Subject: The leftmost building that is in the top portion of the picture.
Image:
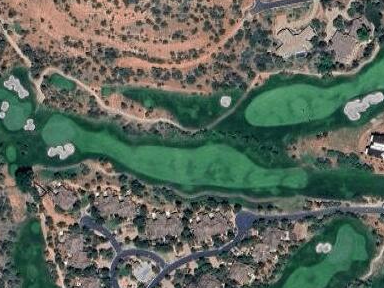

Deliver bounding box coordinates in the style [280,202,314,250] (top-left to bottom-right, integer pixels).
[277,26,316,57]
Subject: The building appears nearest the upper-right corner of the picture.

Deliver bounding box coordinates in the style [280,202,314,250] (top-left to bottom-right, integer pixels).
[328,15,375,62]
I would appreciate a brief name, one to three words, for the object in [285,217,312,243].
house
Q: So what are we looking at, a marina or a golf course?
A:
golf course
